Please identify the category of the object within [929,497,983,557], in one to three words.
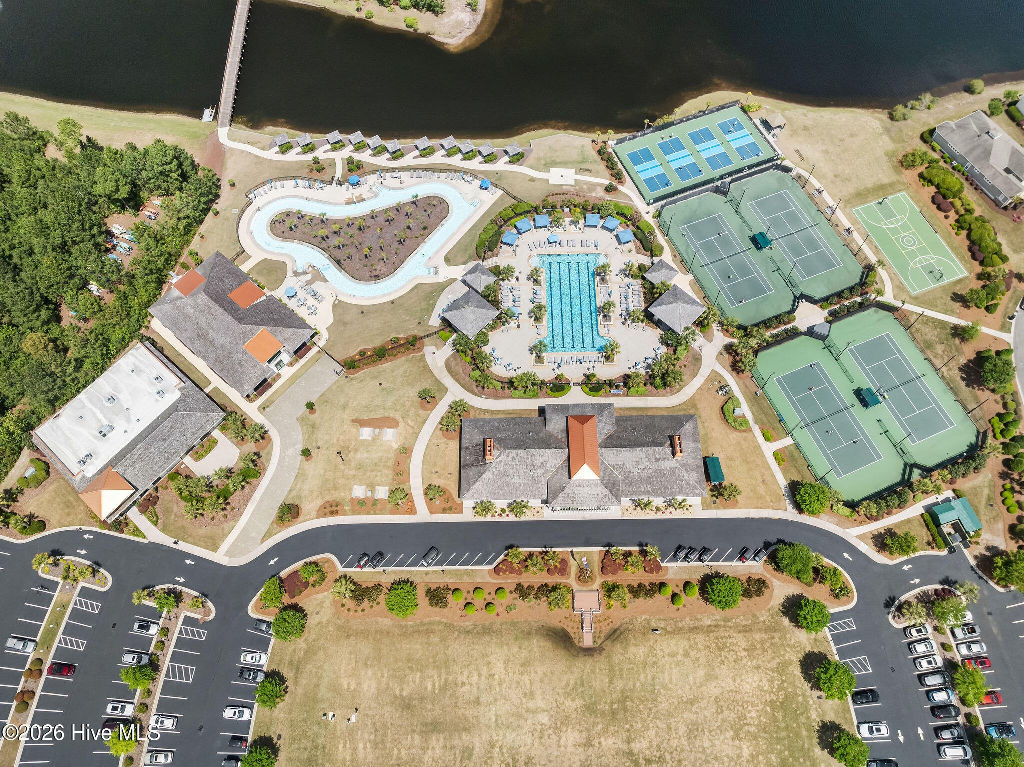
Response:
shed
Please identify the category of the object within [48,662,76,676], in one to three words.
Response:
car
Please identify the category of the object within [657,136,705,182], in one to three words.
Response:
sports court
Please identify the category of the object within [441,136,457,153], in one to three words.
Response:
gazebo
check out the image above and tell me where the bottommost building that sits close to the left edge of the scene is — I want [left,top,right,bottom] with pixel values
[30,340,226,523]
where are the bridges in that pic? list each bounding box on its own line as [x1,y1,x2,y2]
[216,0,253,130]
